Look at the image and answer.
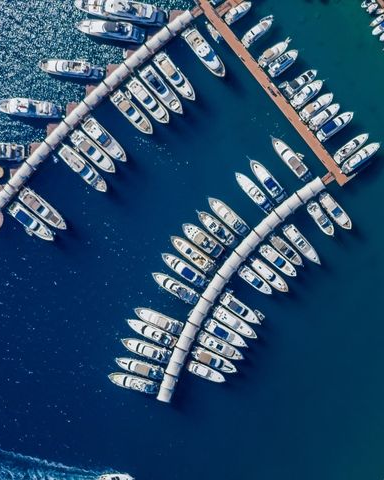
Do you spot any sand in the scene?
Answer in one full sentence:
No, the picture contains no sand.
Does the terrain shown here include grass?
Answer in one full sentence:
No, grass can't be seen anywhere here.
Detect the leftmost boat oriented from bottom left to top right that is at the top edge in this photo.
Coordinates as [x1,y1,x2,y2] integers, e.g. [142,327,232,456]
[226,3,251,26]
